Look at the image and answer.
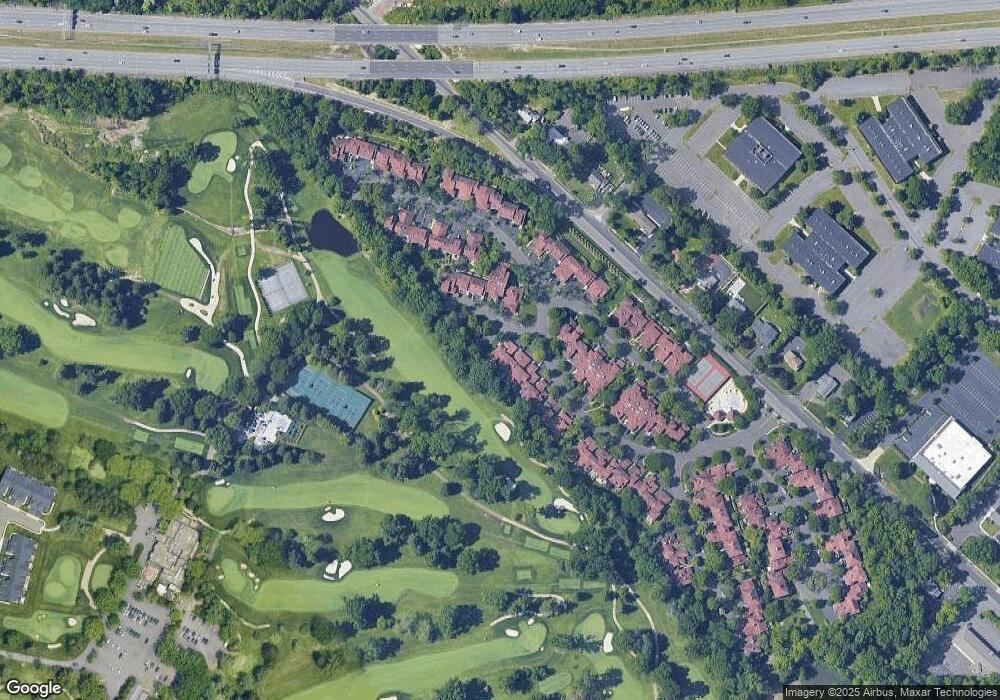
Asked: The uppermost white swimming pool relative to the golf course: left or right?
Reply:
on the right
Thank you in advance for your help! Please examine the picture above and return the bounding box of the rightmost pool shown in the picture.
[704,378,747,419]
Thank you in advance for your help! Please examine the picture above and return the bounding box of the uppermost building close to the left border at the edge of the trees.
[0,465,58,516]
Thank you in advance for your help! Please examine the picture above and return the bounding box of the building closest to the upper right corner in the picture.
[859,97,943,183]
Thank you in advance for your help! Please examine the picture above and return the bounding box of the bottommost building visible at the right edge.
[959,632,1000,681]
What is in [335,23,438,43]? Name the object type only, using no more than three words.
bridge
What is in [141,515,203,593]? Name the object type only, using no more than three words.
building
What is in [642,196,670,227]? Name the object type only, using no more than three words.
house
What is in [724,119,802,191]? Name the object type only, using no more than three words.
building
